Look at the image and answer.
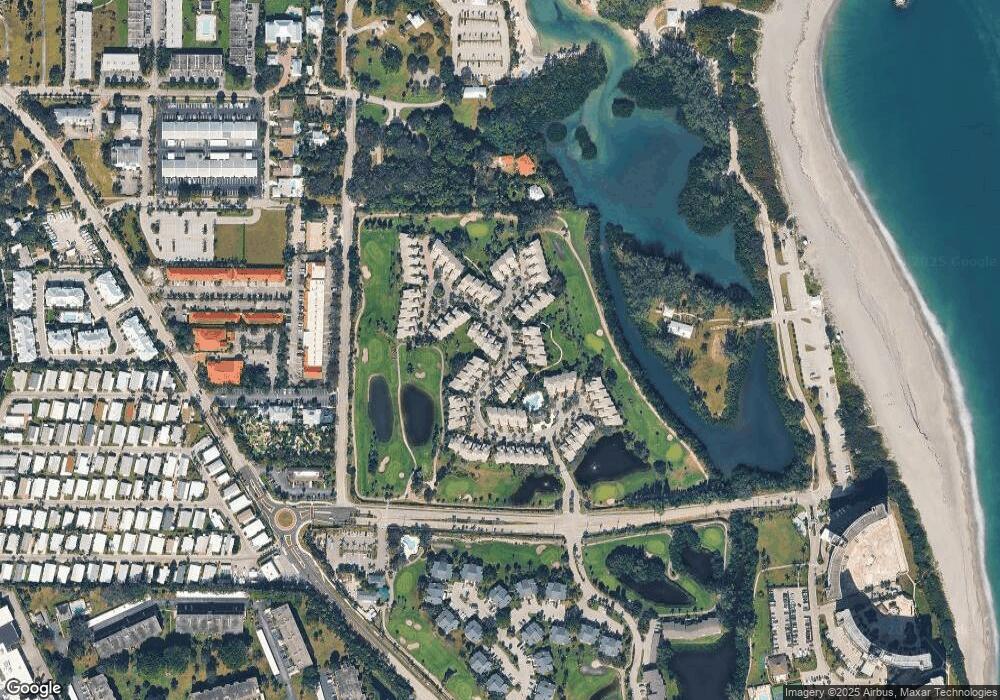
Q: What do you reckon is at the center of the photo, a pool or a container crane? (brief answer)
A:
pool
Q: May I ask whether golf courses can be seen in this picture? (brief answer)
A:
Yes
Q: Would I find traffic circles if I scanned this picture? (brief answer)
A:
Yes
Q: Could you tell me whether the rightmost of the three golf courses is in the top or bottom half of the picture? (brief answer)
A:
bottom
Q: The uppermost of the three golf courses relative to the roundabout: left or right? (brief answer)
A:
right of it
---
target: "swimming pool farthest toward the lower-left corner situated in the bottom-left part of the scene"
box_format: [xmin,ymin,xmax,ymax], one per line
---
[70,599,86,614]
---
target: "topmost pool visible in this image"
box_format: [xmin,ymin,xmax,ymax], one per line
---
[195,15,216,41]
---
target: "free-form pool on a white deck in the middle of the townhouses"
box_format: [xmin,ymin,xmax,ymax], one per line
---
[523,392,544,412]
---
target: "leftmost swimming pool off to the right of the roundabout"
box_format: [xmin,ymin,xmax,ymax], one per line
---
[401,535,419,559]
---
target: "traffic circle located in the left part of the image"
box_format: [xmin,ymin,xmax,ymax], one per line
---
[238,467,352,582]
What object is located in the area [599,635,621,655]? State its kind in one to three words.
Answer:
house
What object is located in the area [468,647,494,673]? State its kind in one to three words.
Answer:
house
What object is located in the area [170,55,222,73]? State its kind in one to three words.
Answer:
building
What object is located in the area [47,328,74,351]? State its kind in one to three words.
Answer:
building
